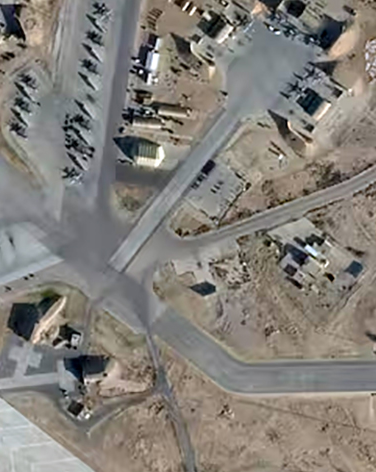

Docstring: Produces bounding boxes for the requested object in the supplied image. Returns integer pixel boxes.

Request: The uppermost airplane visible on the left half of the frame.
[97,6,111,21]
